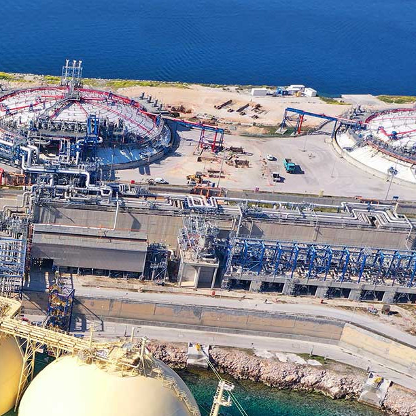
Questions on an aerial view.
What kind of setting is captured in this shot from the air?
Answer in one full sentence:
It's an industrial area.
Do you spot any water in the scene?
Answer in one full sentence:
Yes, the picture does contain water.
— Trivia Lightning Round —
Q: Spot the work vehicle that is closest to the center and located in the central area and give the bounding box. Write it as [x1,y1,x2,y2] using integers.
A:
[174,171,202,193]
